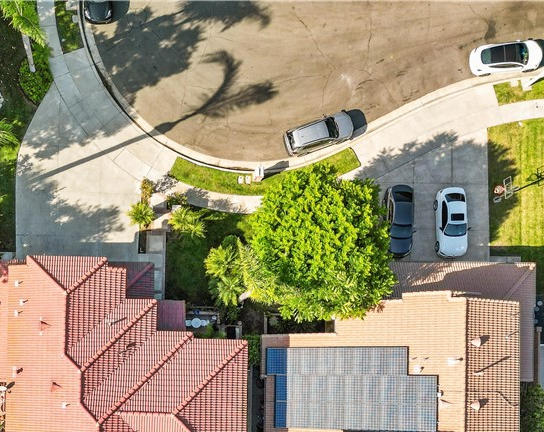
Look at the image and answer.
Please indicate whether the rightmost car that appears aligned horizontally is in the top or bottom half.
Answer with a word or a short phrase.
top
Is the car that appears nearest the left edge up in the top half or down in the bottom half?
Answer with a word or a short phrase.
top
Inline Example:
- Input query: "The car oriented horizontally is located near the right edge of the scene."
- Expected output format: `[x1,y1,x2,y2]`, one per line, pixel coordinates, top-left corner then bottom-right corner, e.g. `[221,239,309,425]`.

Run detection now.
[465,37,540,79]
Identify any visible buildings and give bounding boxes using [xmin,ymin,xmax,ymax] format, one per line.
[0,253,249,432]
[260,262,537,432]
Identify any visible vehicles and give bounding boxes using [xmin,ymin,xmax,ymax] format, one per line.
[382,184,420,259]
[465,37,540,79]
[82,0,115,28]
[527,45,544,82]
[432,186,472,259]
[280,111,354,159]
